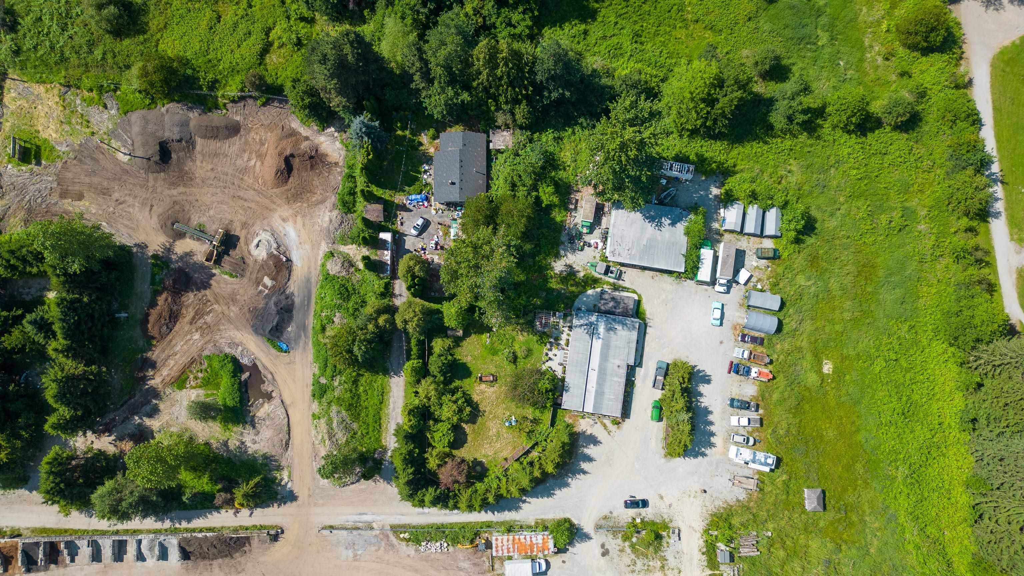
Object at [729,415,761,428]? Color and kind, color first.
white vehicle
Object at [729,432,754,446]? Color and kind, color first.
white car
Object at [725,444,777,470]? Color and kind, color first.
white camper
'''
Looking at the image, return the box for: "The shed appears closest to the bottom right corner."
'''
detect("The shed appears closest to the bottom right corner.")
[801,485,822,510]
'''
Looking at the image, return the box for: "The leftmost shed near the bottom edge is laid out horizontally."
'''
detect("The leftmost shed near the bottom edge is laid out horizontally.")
[492,531,554,556]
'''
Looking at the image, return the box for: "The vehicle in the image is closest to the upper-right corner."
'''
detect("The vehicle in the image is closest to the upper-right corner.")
[754,247,780,260]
